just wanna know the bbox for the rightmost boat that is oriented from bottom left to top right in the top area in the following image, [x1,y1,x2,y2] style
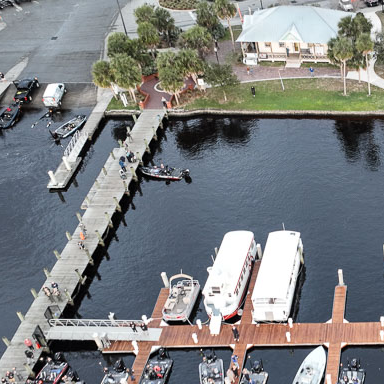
[52,113,87,140]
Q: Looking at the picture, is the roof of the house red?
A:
No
